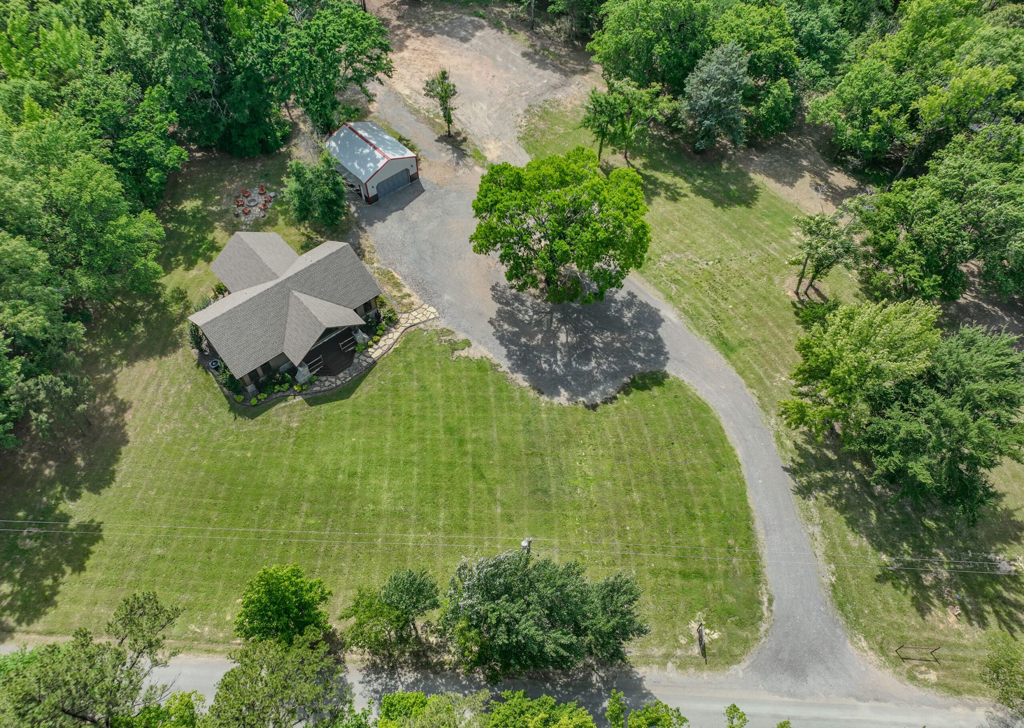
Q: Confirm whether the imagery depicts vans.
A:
No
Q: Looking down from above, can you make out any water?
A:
No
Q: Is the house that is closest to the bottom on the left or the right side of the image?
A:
left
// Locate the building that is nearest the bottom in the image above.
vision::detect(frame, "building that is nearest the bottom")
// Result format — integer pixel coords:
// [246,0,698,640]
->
[188,232,382,393]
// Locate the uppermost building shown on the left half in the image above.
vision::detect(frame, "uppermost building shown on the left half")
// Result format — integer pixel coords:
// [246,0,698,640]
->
[322,119,421,206]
